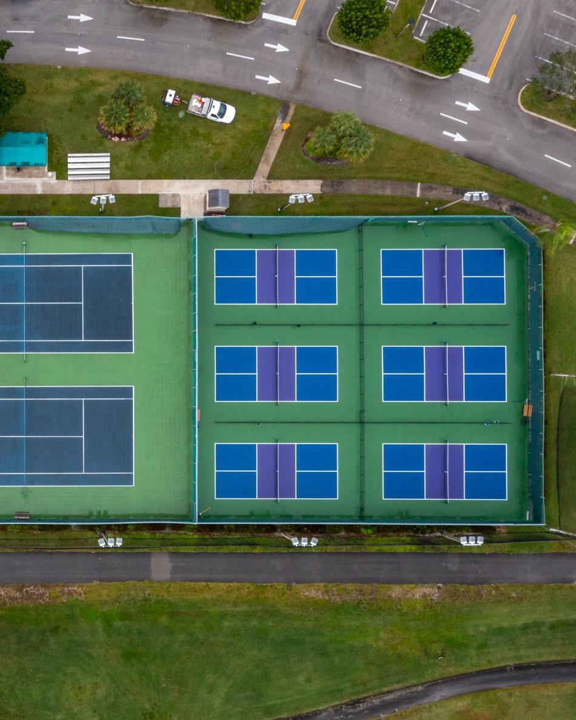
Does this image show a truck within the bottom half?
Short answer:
No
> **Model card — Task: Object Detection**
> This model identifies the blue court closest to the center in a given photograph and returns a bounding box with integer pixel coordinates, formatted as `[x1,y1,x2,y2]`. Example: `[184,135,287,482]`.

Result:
[215,346,338,401]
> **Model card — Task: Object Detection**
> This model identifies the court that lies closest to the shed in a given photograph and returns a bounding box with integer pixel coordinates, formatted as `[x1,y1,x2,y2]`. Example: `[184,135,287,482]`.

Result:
[215,249,338,305]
